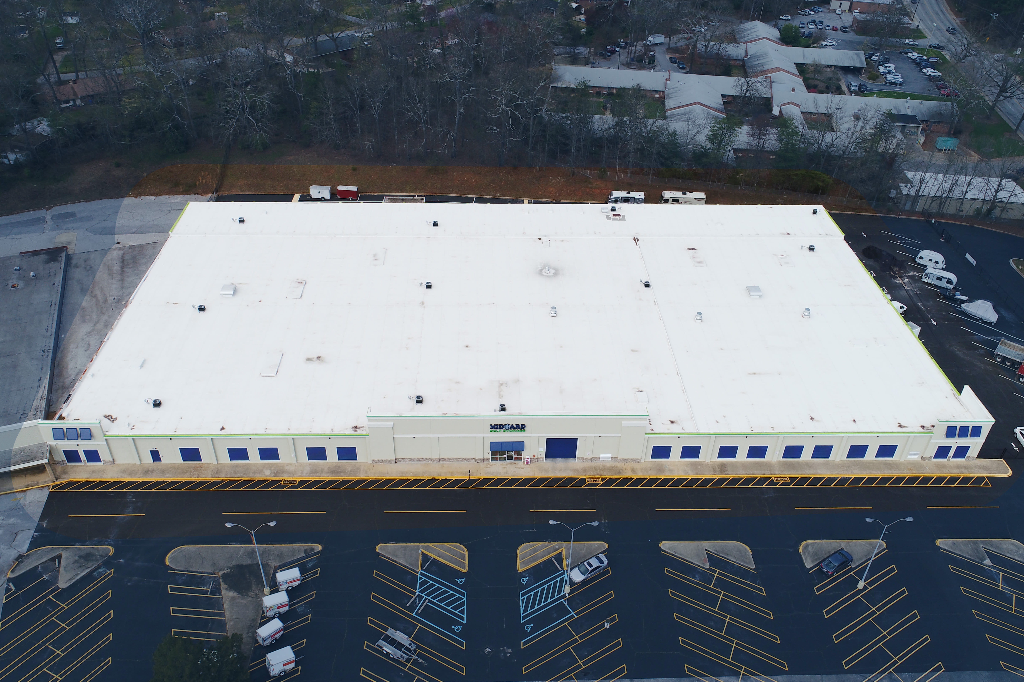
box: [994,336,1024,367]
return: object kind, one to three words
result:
truck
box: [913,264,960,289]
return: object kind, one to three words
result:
vehicle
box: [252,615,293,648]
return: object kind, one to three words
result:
trailer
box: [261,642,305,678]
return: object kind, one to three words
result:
trailer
